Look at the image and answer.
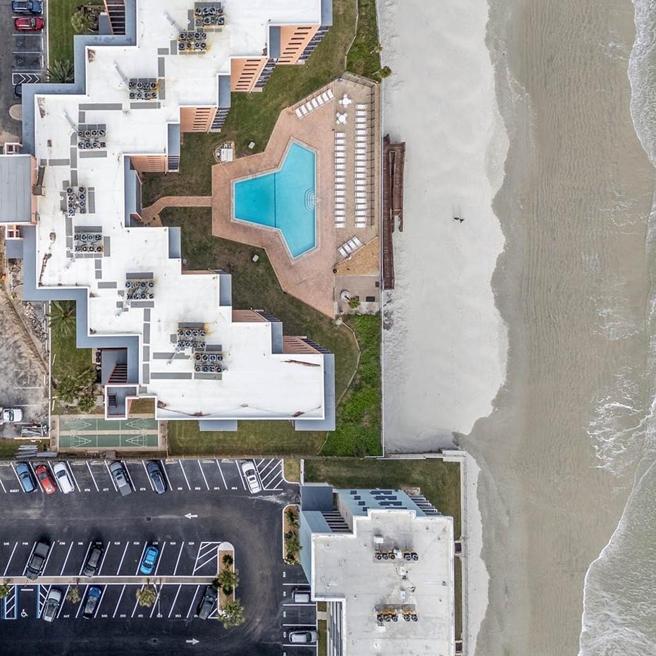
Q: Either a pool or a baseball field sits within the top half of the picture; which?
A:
pool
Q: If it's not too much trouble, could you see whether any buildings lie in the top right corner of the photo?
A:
No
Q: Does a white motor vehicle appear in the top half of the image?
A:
No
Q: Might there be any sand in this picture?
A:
Yes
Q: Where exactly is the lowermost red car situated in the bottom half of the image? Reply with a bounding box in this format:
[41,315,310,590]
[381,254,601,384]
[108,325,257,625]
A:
[35,463,57,495]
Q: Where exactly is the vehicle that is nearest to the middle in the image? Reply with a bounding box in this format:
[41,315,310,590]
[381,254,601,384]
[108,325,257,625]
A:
[241,459,262,495]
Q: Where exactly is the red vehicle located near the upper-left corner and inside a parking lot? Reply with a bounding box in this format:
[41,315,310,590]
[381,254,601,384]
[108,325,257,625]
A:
[15,17,45,31]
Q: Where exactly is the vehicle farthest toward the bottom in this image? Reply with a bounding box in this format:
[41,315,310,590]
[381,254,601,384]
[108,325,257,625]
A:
[288,628,317,644]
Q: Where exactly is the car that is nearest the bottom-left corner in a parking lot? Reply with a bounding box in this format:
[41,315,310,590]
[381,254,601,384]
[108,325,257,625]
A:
[42,586,64,624]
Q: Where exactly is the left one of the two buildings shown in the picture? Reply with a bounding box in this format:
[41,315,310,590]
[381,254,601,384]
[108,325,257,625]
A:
[0,0,335,430]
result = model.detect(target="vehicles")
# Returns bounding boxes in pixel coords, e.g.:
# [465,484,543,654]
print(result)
[15,17,45,31]
[15,85,21,97]
[292,588,318,604]
[84,544,103,577]
[109,460,133,499]
[241,459,262,495]
[146,461,166,495]
[0,407,23,424]
[42,586,64,624]
[80,583,100,621]
[288,628,317,644]
[35,463,57,495]
[141,544,158,573]
[18,461,35,492]
[12,0,43,14]
[195,583,218,623]
[28,539,51,580]
[53,460,75,495]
